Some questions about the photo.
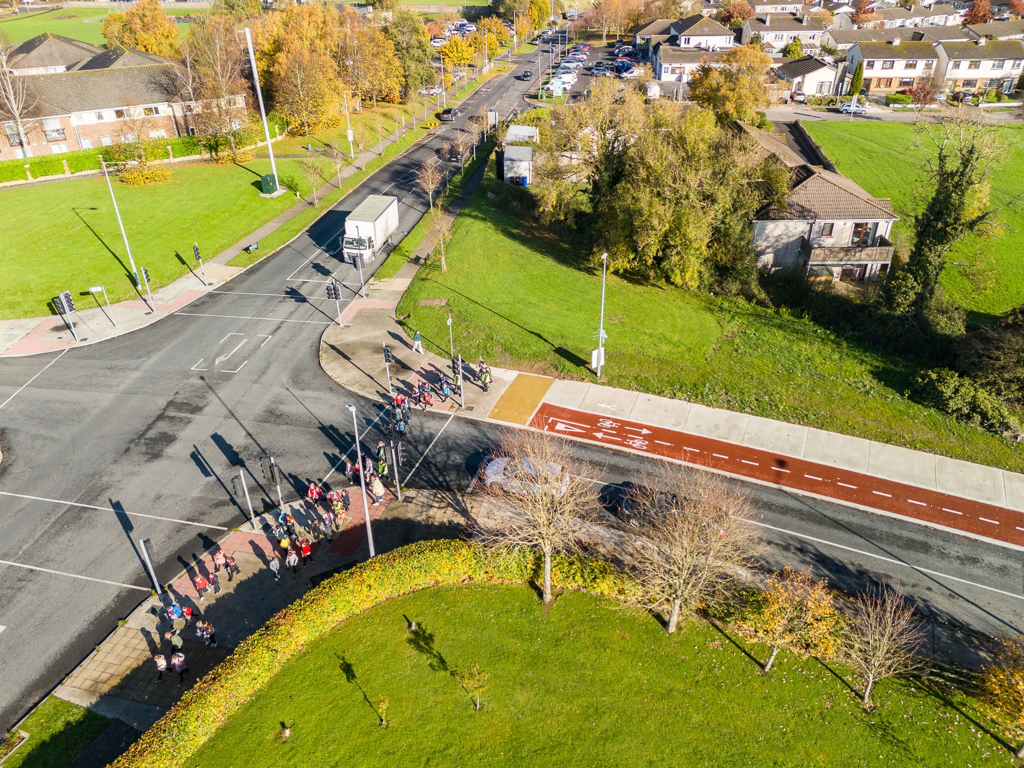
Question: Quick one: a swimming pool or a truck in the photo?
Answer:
truck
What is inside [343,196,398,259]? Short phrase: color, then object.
white truck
